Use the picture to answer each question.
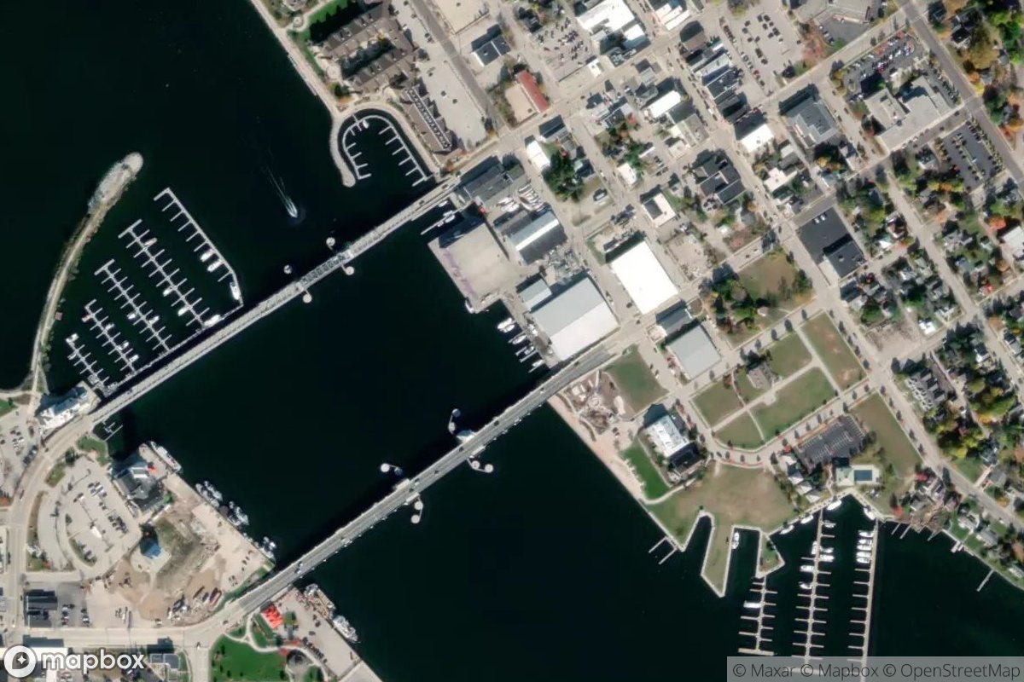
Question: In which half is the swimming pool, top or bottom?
bottom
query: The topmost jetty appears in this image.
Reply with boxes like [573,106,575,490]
[343,114,432,186]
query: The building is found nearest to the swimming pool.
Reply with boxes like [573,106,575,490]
[836,467,854,486]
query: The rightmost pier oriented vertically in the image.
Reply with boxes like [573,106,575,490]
[843,518,878,682]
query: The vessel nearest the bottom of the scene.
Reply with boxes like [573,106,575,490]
[333,619,360,646]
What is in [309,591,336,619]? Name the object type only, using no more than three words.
ship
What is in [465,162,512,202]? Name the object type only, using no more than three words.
shed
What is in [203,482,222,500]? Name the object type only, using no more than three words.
boat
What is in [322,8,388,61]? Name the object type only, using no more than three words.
building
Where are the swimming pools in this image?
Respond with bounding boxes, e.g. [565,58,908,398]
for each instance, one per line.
[852,465,879,485]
